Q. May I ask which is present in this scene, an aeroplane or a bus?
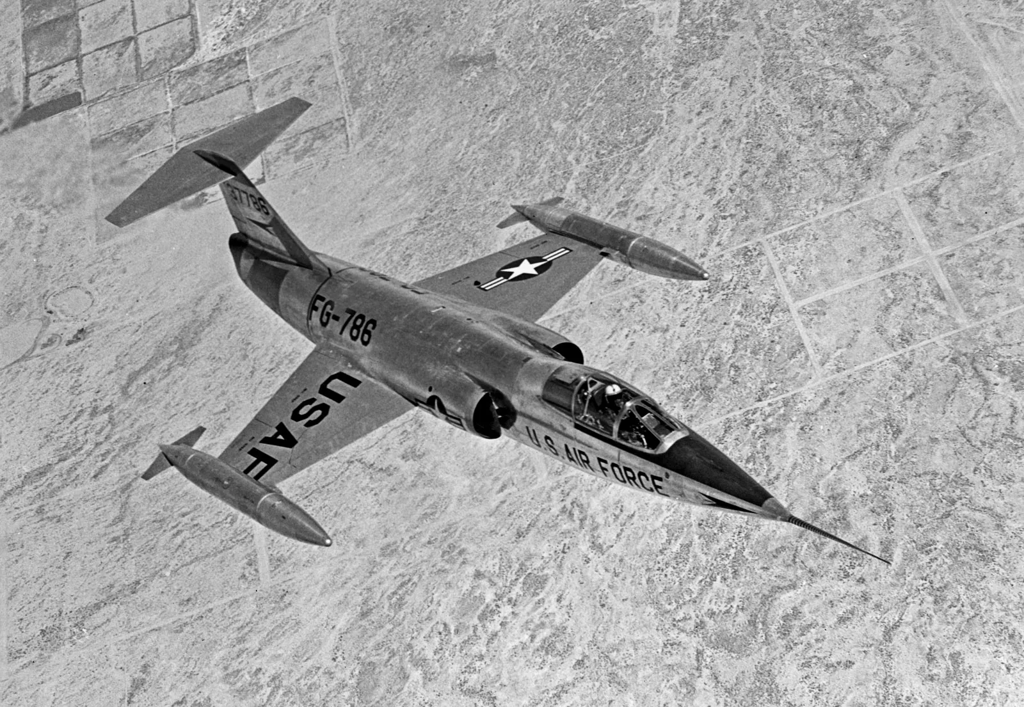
aeroplane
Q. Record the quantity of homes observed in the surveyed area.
0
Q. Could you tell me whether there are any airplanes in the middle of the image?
Yes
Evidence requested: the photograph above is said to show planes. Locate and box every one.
[106,99,891,565]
